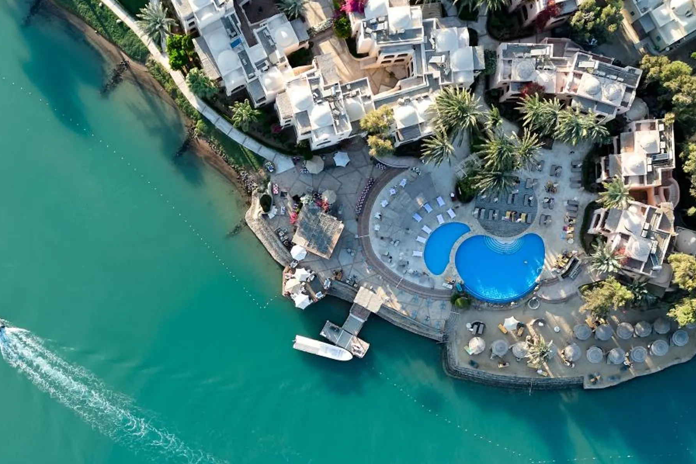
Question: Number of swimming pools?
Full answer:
I count 2 swimming pools.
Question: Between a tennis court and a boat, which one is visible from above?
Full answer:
I can see a boat in this picture.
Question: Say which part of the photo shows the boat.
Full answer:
You can find the boat in the bottom area of the picture.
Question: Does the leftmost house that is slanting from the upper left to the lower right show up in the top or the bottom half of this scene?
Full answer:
It is in the top half that the leftmost house that is slanting from the upper left to the lower right appears.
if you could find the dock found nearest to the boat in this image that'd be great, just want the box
[320,287,382,358]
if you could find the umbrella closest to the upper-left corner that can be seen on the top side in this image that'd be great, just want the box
[306,155,324,174]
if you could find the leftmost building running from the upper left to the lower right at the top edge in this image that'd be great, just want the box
[173,0,266,108]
